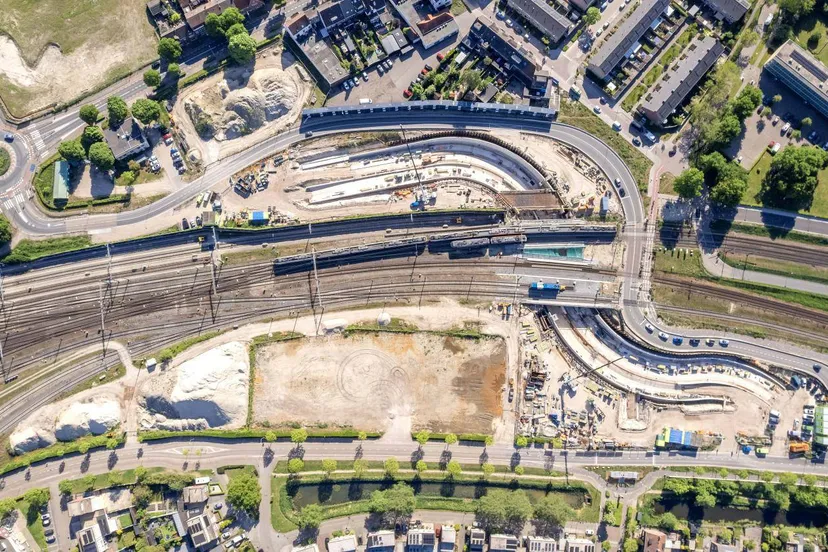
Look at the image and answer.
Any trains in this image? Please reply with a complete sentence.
Yes, the photo shows a train.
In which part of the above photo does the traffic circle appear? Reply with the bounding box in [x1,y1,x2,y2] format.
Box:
[0,120,36,202]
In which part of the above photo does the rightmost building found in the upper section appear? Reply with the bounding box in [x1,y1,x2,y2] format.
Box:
[763,39,828,107]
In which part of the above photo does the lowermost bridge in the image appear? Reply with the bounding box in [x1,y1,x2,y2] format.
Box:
[496,269,622,309]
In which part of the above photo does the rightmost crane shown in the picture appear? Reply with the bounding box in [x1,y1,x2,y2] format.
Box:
[554,348,626,397]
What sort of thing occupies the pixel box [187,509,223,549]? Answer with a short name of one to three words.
house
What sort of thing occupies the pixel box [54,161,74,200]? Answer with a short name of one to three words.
shed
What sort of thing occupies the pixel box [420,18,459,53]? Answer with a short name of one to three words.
building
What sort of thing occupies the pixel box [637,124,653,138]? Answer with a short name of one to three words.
vehicle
